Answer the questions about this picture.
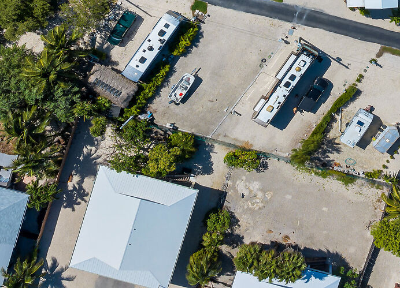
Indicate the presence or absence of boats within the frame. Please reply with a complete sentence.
Yes, the frame does contain a boat.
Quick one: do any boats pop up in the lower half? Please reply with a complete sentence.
No, no boat appears in the lower half.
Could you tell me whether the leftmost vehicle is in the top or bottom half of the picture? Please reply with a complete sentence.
Seen from above, the leftmost vehicle lies in the top half of the view.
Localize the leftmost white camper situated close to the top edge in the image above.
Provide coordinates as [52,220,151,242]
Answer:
[124,8,189,82]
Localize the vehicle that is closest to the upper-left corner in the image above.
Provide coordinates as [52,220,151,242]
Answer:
[108,11,138,48]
